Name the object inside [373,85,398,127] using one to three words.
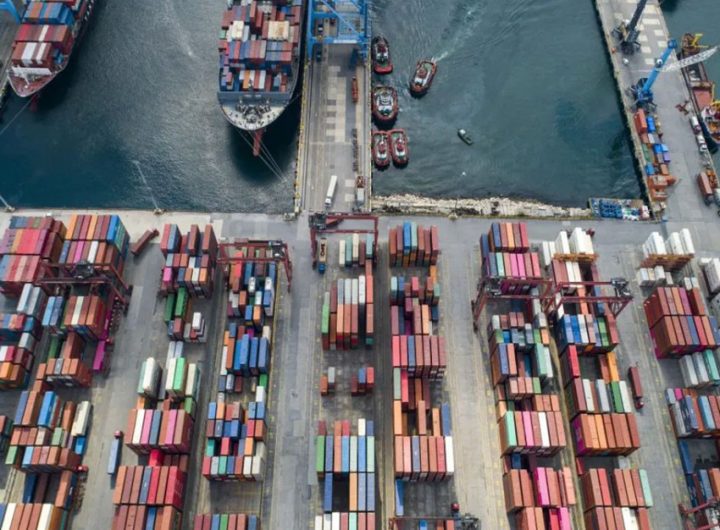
boat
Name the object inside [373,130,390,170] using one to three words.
boat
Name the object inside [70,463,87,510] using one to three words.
vehicle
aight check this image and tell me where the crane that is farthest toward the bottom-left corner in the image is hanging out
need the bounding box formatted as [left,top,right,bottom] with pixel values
[35,260,131,316]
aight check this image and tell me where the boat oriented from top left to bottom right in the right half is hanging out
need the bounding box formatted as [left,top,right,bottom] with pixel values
[457,130,472,145]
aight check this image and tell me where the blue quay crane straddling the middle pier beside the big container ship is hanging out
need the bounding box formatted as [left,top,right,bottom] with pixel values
[304,0,371,63]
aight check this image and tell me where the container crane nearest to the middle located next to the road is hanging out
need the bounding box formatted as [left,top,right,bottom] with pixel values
[311,212,382,268]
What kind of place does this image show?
port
